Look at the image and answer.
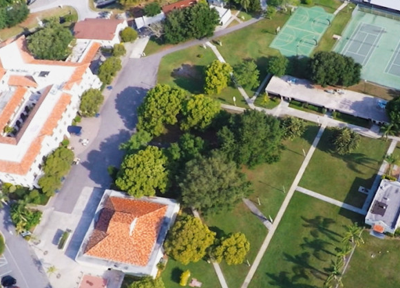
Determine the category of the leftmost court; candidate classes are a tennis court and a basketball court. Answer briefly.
basketball court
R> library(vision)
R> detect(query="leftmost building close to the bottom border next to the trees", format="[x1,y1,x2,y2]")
[76,190,180,282]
